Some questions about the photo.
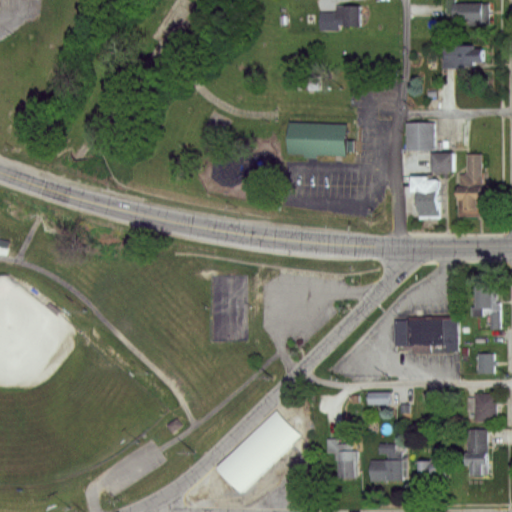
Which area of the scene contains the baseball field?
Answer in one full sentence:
The baseball field appears toward the bottom left of the photo.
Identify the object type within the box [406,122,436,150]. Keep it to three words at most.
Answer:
building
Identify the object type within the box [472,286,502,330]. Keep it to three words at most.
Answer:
house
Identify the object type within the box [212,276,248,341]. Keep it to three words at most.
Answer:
sports court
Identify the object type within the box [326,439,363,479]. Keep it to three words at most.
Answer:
house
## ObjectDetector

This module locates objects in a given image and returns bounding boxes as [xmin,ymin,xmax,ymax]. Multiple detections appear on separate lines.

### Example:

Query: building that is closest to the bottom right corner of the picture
[462,430,494,478]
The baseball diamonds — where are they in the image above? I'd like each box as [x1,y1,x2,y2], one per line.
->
[0,276,160,482]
